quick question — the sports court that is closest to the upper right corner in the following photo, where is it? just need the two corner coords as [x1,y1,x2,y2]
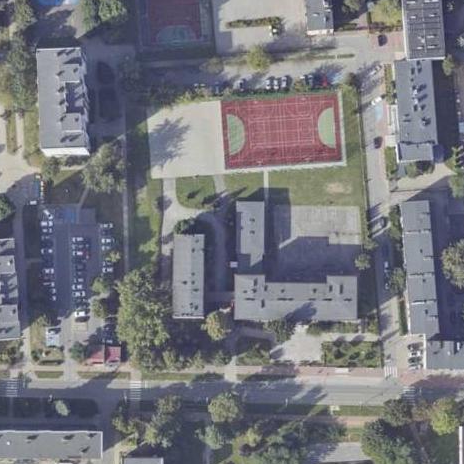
[221,92,343,170]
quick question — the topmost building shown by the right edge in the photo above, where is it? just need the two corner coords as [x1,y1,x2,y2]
[401,0,444,64]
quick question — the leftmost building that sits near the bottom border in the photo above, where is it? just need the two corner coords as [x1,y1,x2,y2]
[0,431,107,460]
